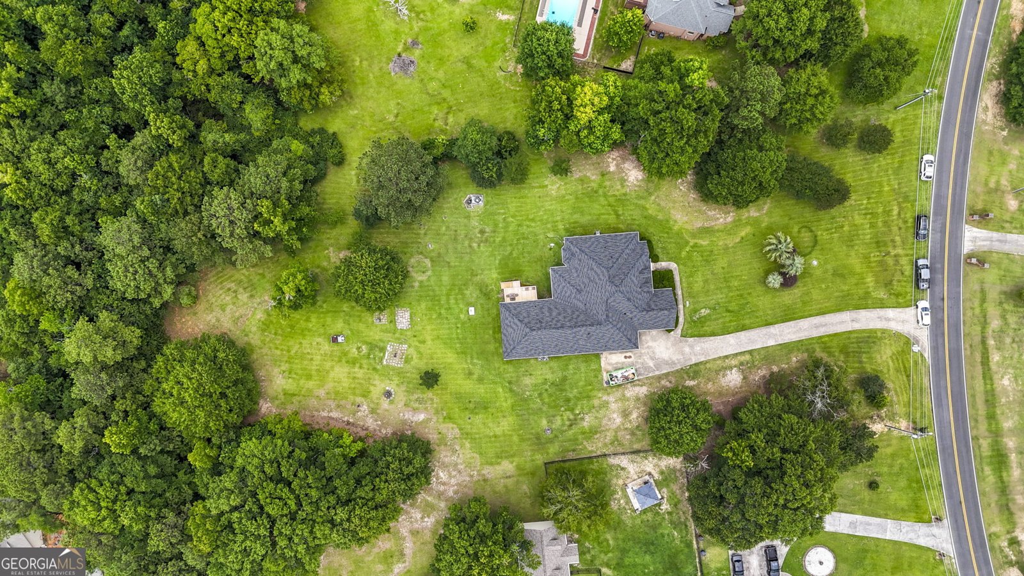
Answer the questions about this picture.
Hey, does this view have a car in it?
Yes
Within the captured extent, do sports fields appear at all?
No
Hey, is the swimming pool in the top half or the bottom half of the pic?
top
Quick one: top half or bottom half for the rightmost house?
top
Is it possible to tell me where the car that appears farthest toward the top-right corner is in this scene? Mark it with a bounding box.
[918,154,934,181]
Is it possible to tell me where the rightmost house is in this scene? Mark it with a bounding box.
[642,0,739,43]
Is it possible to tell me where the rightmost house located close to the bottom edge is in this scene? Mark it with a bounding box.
[518,522,580,576]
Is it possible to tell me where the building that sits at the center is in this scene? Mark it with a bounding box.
[500,231,676,360]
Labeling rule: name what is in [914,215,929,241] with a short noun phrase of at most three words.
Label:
car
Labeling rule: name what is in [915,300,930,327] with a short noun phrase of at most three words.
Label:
car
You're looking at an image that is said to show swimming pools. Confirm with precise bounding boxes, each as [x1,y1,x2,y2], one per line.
[537,0,602,59]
